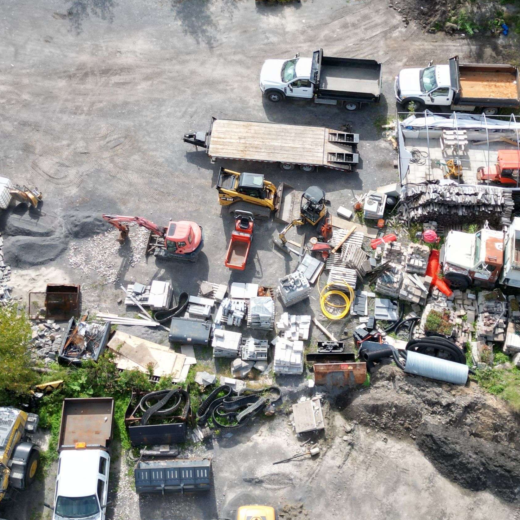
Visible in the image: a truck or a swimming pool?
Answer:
truck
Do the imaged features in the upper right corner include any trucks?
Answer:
Yes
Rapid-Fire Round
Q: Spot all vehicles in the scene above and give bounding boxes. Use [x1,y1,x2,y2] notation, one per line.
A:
[254,47,377,113]
[0,401,48,520]
[102,214,213,272]
[36,394,122,520]
[213,163,308,226]
[394,54,520,120]
[475,140,520,180]
[280,191,340,244]
[226,202,254,266]
[427,207,520,282]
